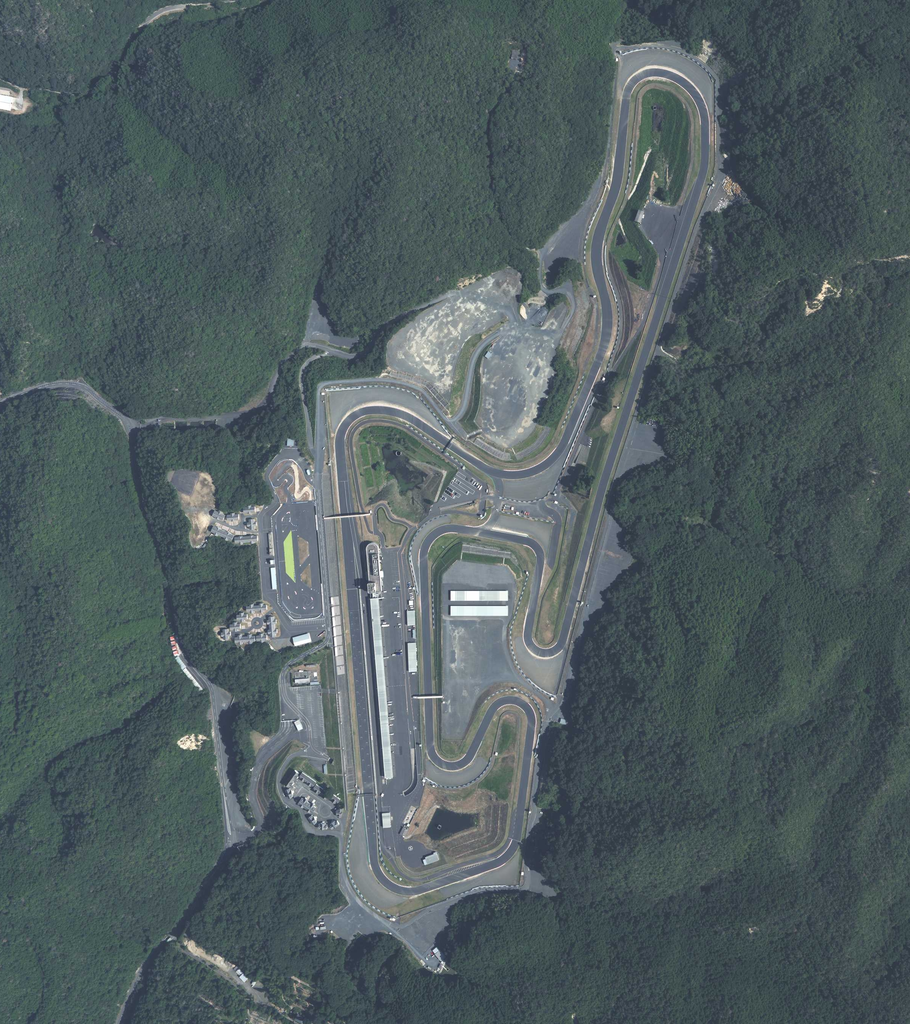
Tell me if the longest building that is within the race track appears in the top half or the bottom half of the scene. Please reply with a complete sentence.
The longest building that is within the race track sits in the bottom half of the picture.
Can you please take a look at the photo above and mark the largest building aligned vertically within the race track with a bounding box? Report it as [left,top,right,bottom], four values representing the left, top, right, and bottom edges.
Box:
[369,598,393,783]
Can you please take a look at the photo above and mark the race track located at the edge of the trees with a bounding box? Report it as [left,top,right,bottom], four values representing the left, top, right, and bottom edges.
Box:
[335,68,710,896]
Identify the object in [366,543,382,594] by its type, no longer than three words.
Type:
building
